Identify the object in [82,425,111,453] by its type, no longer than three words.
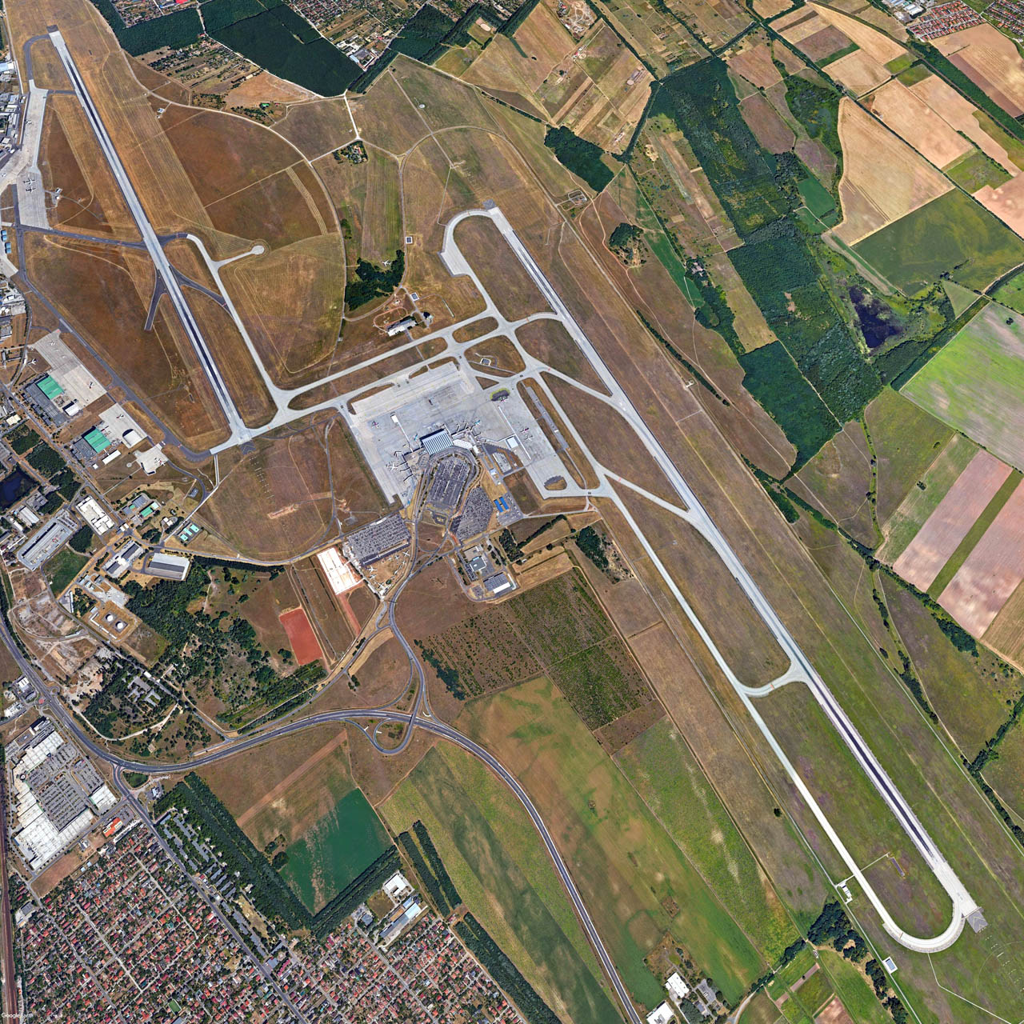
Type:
hangar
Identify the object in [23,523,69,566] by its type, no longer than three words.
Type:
shed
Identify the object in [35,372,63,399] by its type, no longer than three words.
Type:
hangar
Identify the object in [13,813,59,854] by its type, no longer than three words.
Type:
building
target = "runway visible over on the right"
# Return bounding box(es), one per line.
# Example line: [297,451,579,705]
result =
[482,199,988,932]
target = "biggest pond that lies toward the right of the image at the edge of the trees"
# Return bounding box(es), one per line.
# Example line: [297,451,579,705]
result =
[849,285,904,349]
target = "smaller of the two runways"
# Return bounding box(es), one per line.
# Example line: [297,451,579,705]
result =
[46,24,255,454]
